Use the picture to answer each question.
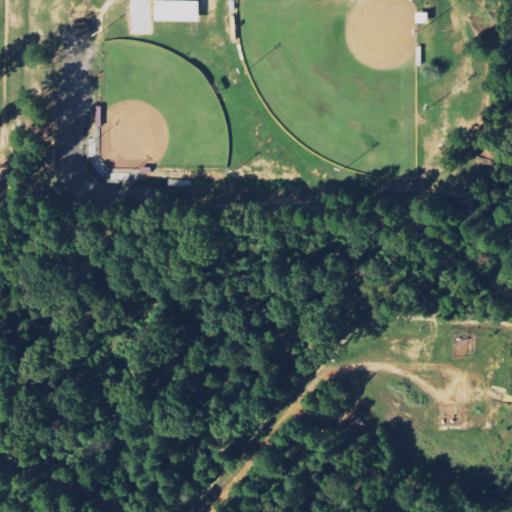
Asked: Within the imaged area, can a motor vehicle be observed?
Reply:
No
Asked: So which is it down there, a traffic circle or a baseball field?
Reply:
baseball field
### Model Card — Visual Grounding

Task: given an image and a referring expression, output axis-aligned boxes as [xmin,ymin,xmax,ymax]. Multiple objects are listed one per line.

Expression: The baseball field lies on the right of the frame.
[237,0,416,179]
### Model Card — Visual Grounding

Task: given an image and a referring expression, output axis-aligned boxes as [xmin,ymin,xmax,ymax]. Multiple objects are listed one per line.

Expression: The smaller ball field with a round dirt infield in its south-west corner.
[100,37,229,168]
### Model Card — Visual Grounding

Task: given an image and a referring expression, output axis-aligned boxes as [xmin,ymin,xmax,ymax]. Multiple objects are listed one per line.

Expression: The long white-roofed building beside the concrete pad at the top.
[154,0,199,22]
